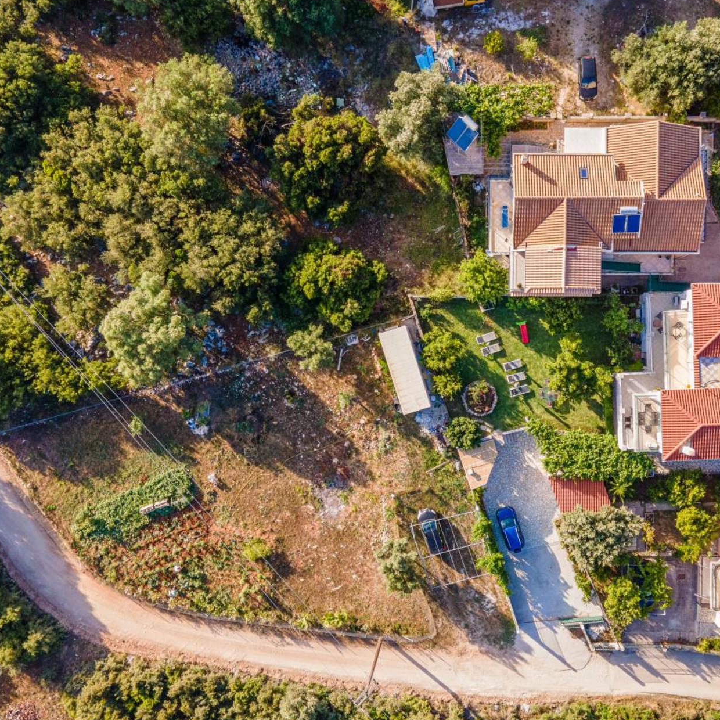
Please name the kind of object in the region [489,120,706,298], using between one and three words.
house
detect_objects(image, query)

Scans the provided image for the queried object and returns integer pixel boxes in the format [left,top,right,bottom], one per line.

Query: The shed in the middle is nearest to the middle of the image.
[379,324,431,415]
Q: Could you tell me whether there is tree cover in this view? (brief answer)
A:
Yes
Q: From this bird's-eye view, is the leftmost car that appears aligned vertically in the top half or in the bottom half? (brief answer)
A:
bottom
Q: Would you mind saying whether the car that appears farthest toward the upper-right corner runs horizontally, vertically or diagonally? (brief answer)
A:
vertically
